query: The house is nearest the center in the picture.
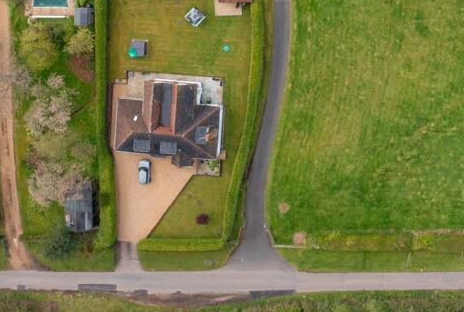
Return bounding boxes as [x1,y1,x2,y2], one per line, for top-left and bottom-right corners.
[113,78,228,168]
